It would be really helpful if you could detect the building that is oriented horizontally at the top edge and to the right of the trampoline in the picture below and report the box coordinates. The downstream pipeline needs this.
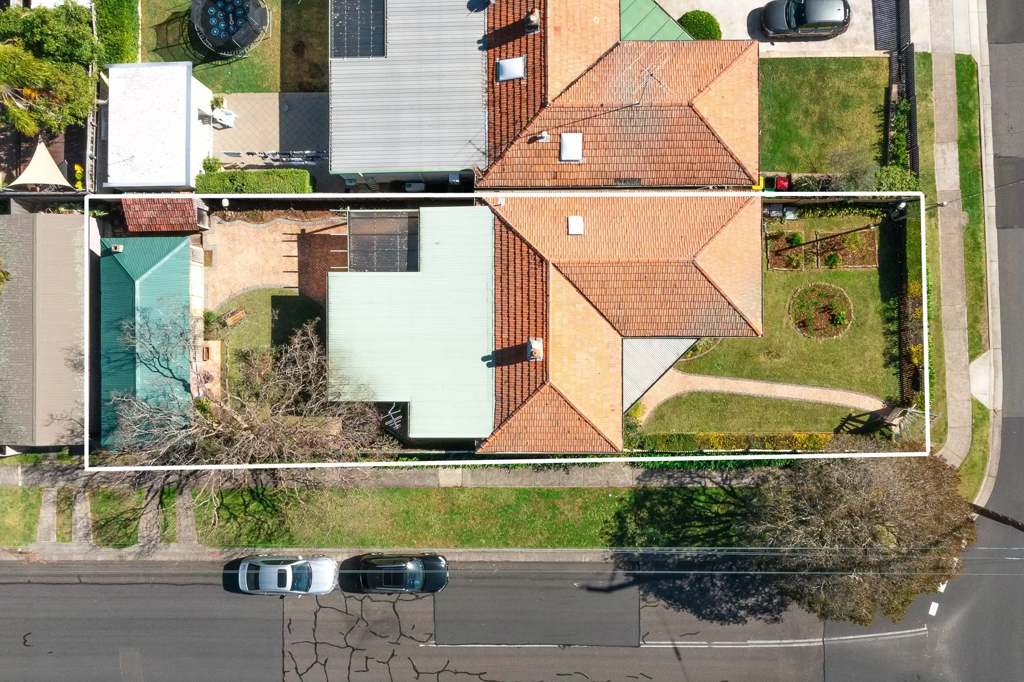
[328,0,761,189]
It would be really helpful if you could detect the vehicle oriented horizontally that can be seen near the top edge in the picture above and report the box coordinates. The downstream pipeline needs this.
[760,0,854,41]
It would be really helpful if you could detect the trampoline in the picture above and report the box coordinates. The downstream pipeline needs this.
[178,0,281,71]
